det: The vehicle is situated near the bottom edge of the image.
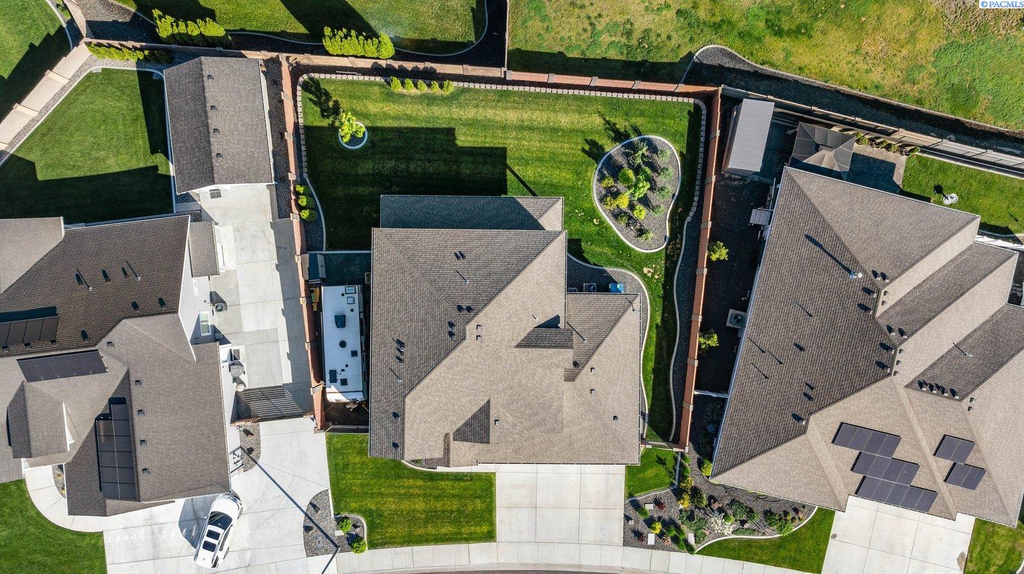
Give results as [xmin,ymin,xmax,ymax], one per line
[191,495,242,571]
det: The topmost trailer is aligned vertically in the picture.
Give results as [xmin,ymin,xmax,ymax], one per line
[321,285,369,407]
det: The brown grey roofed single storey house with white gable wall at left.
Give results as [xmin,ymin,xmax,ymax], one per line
[0,214,236,517]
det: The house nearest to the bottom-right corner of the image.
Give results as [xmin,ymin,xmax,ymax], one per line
[707,165,1024,529]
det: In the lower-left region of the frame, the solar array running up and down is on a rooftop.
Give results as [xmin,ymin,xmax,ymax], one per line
[96,405,137,501]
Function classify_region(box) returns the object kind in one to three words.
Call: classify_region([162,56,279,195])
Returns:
building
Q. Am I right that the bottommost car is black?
No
